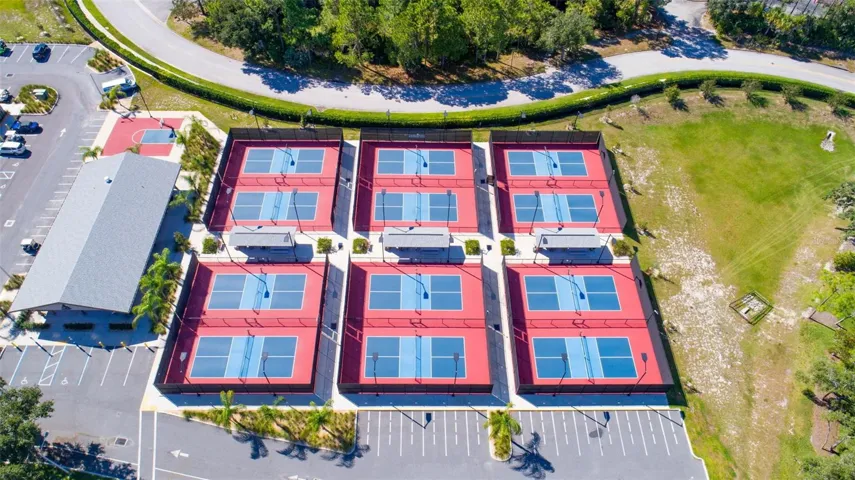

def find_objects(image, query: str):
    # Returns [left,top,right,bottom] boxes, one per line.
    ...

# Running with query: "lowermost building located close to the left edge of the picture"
[8,151,183,323]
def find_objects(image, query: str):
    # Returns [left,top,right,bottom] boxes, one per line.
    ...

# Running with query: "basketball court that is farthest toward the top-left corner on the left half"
[102,118,185,157]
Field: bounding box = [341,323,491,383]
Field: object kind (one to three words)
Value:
sports court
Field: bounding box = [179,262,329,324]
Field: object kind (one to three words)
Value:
sports court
